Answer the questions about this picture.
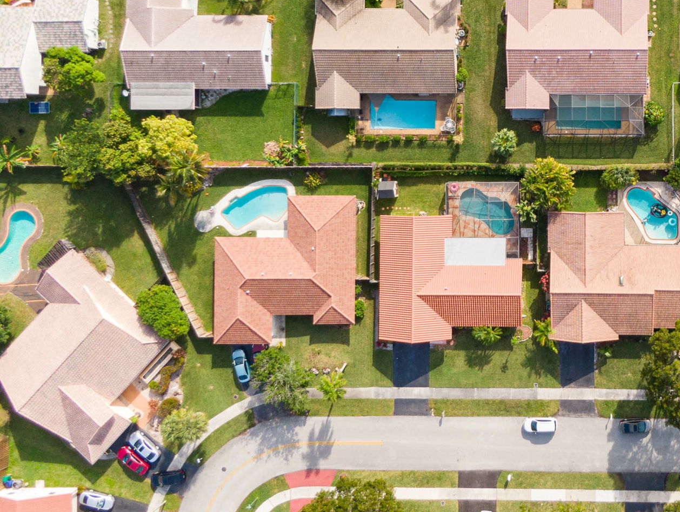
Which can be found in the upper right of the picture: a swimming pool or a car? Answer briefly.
swimming pool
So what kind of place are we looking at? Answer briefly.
residential area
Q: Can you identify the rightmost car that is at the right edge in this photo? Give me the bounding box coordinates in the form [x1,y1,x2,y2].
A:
[618,418,650,434]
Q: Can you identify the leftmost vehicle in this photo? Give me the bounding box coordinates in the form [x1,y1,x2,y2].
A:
[81,491,116,511]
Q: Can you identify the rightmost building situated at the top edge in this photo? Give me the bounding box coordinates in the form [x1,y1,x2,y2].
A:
[506,0,650,119]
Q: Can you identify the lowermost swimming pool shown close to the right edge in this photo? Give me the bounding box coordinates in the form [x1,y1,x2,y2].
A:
[622,183,680,244]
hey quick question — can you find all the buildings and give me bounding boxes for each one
[548,212,680,344]
[378,214,523,344]
[373,182,397,200]
[0,249,175,465]
[311,0,461,116]
[506,0,650,119]
[213,195,358,344]
[0,0,101,105]
[0,484,84,512]
[119,0,274,110]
